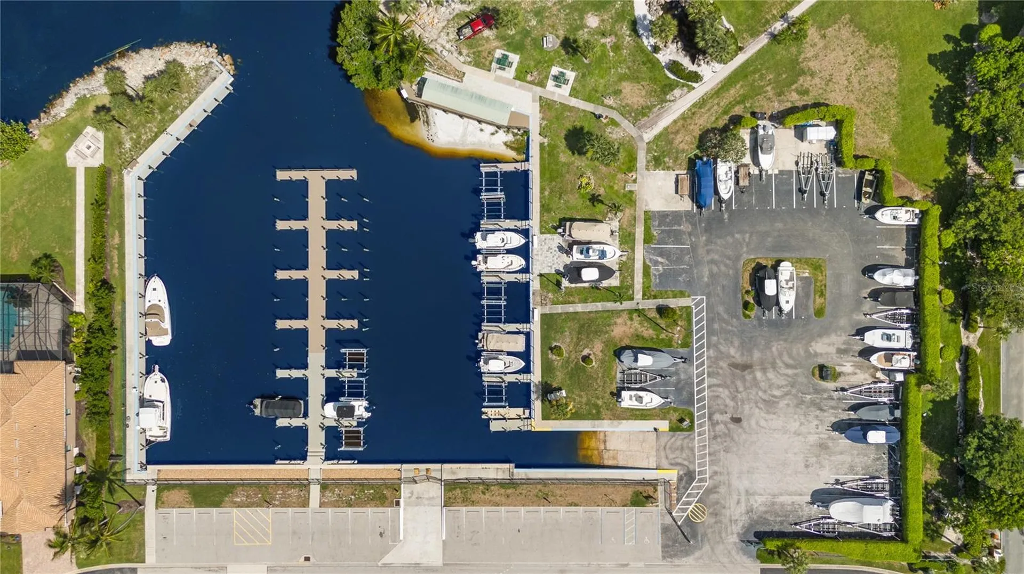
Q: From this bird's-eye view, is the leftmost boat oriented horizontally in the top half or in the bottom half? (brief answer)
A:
bottom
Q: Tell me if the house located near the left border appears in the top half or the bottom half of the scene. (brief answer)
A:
bottom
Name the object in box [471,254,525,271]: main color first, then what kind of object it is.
white boat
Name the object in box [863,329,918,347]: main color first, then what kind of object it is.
white boat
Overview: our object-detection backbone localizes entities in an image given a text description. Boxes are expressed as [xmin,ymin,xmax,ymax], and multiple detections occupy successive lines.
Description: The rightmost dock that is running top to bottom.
[273,167,359,464]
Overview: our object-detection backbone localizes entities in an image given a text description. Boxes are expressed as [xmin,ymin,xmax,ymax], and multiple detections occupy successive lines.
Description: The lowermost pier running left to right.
[490,418,530,433]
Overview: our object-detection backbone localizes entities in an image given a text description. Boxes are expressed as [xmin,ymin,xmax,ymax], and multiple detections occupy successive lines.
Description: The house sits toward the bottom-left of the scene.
[0,360,74,538]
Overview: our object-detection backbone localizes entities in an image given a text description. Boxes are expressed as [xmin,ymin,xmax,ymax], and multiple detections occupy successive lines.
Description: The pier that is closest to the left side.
[125,85,235,472]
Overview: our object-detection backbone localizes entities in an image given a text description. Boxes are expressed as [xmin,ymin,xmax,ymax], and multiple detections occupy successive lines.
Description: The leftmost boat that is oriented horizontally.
[247,395,305,416]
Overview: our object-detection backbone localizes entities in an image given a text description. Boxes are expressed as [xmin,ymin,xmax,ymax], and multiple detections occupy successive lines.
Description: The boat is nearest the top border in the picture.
[755,113,773,170]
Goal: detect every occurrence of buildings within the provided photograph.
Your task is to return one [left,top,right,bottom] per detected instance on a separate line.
[0,360,74,538]
[421,78,512,129]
